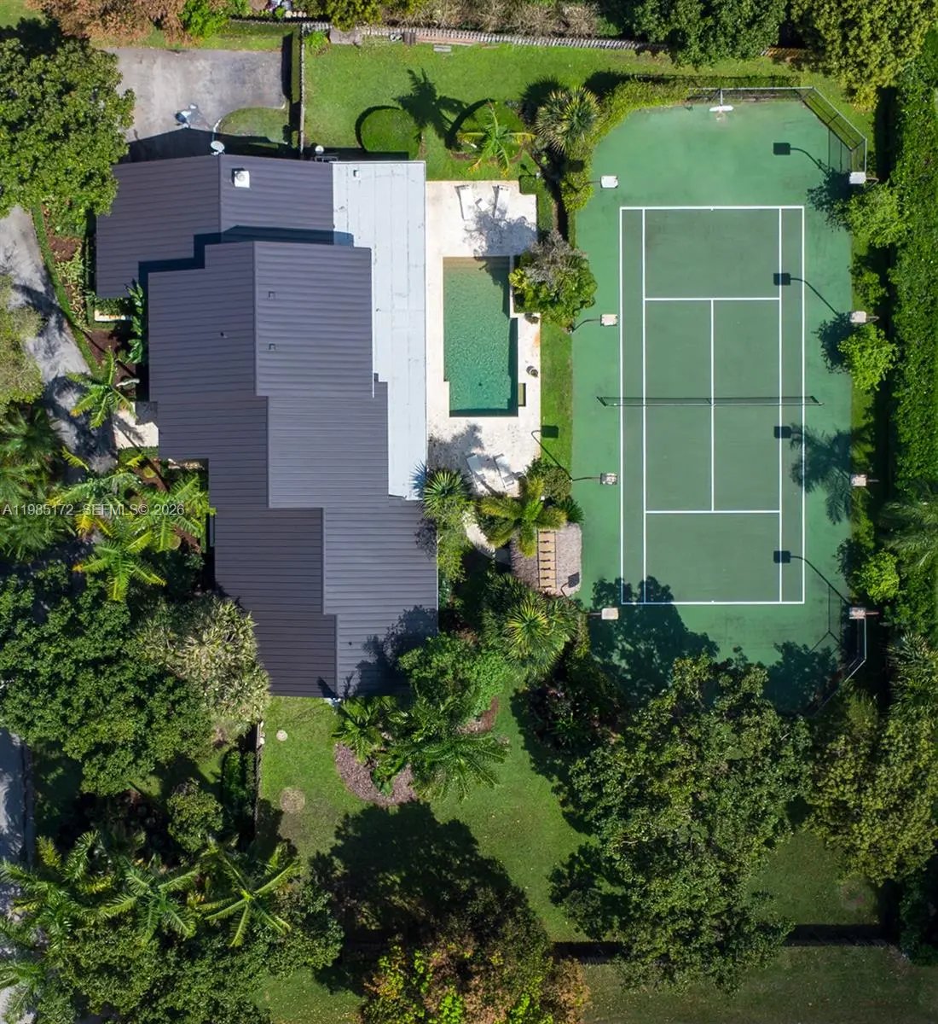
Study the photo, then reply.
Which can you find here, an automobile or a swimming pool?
swimming pool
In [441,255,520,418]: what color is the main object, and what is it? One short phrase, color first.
green swimming pool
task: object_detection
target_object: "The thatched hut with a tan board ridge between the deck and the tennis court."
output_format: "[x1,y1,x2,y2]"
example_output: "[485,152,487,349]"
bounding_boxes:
[507,521,588,601]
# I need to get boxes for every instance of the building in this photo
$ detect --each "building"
[96,156,439,698]
[507,521,588,601]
